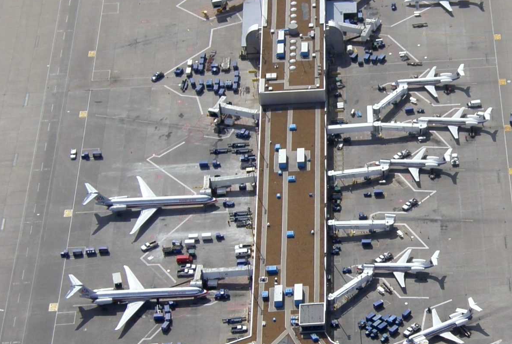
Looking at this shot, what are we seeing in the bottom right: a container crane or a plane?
plane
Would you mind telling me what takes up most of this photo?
paved ground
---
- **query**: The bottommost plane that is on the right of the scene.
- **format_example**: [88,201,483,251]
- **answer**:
[402,296,485,344]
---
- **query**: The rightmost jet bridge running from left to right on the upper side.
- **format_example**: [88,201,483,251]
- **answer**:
[372,117,428,144]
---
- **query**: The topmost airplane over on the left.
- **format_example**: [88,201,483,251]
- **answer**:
[78,177,218,234]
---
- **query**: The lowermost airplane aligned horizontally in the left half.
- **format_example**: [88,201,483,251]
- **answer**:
[62,266,208,330]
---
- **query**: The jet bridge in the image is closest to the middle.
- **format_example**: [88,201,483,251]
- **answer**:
[201,174,256,198]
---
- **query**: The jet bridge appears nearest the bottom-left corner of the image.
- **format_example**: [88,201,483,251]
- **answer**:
[192,265,253,292]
